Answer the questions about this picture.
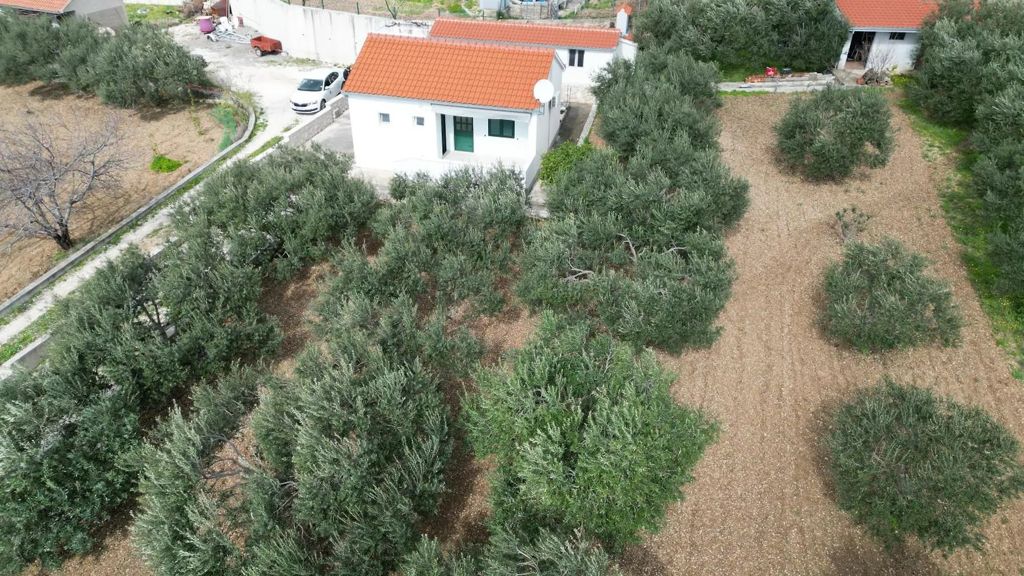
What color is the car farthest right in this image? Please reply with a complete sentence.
The car farthest right is white.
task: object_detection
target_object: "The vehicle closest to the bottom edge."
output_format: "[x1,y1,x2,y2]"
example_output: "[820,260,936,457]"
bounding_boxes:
[290,72,341,107]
